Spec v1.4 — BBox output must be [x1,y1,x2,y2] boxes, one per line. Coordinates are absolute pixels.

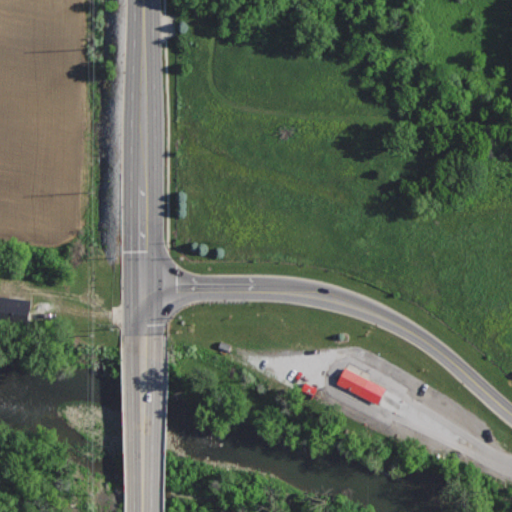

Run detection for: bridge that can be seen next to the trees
[121,334,168,512]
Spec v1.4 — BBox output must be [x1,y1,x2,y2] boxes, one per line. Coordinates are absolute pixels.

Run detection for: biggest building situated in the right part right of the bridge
[338,370,385,404]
